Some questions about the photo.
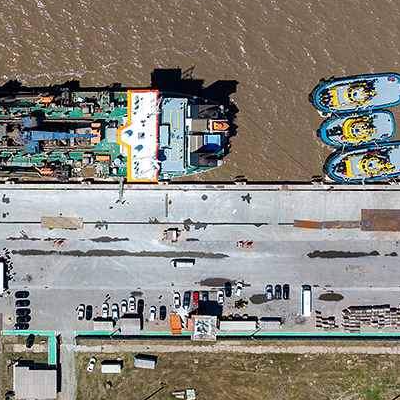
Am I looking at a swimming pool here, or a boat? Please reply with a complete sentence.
This aerial view contains a boat.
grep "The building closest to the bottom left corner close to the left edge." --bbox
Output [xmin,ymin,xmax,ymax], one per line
[12,363,57,400]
